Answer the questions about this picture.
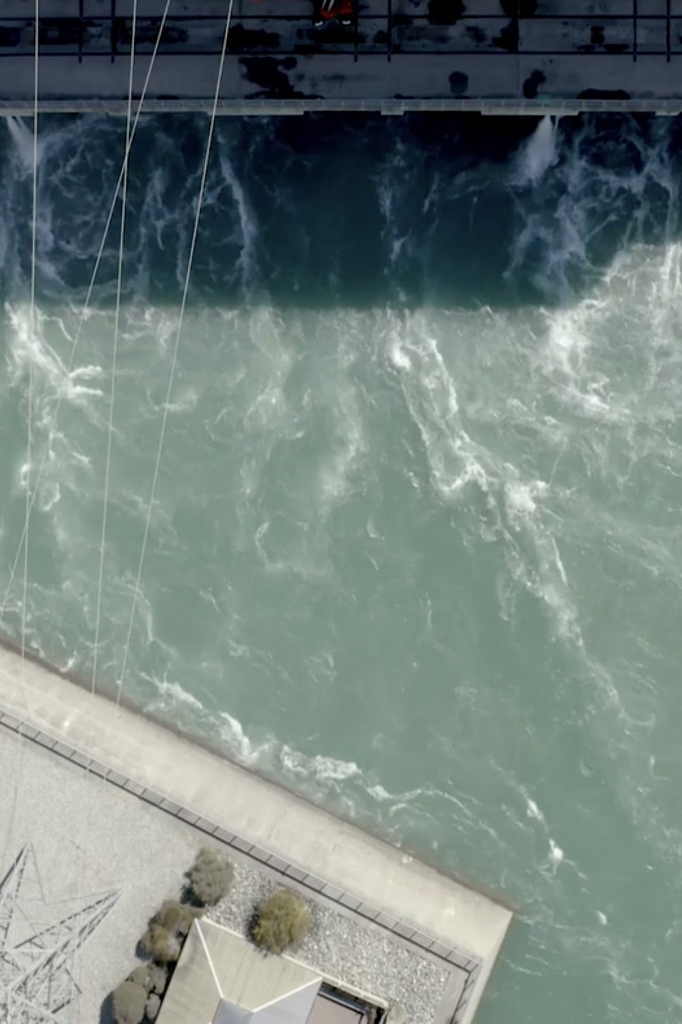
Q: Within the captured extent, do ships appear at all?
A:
No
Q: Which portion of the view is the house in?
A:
bottom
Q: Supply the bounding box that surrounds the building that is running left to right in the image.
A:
[157,917,389,1024]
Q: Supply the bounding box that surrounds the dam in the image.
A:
[0,0,682,119]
